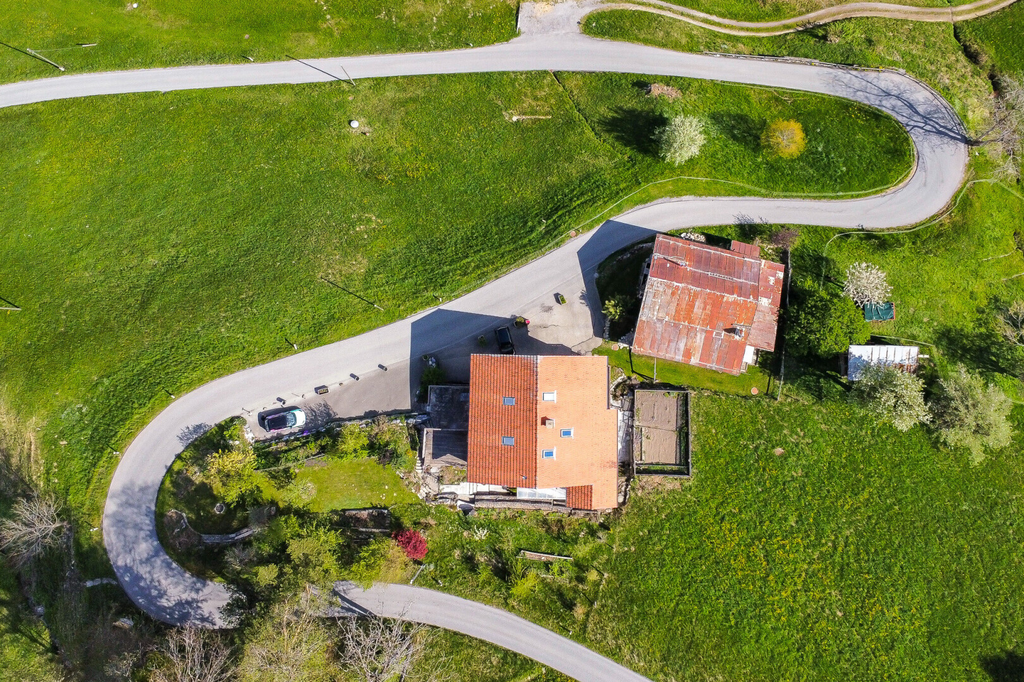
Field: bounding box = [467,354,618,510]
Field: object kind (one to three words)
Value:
house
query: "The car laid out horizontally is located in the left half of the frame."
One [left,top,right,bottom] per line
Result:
[260,410,304,433]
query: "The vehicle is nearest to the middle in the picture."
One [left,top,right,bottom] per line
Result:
[495,323,518,355]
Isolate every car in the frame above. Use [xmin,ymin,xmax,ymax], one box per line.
[495,323,518,355]
[260,410,304,433]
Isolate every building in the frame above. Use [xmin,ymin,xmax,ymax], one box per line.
[467,354,618,510]
[840,345,930,381]
[632,234,784,376]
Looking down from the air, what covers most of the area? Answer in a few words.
grass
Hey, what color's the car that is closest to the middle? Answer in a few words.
black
